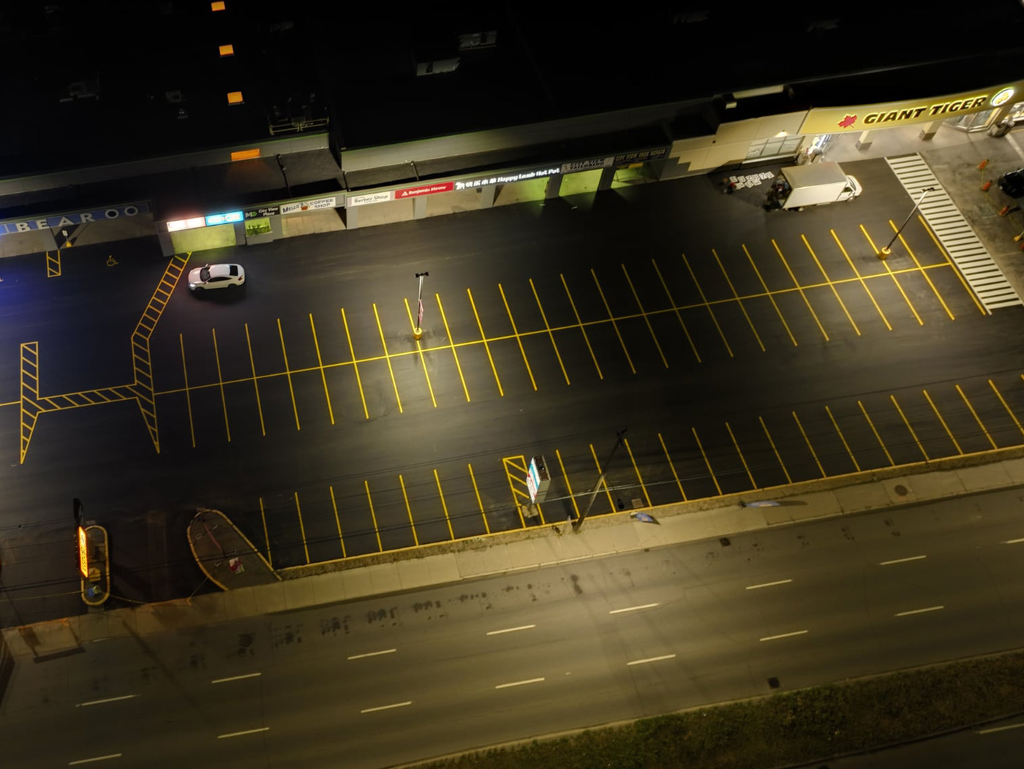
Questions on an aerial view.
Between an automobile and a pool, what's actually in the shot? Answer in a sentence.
Visible in the photo is an automobile.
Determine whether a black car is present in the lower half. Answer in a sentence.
No, no black car can be made out in the lower half.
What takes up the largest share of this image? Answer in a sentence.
The bulk of the photo consists of paved ground.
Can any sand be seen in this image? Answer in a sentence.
No, no sand is visible.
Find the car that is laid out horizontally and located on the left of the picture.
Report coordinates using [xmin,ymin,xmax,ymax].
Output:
[187,264,244,293]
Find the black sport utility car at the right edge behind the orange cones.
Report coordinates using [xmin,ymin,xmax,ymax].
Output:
[999,163,1024,194]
